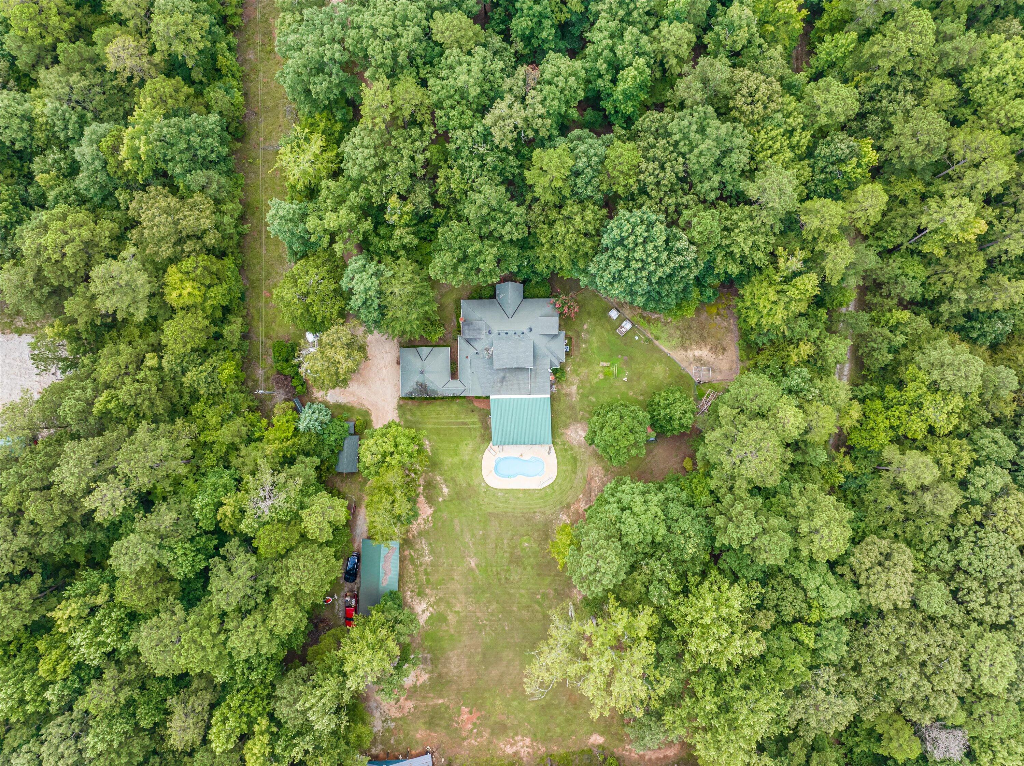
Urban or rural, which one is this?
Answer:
rural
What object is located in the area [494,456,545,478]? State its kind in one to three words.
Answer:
swimming pool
